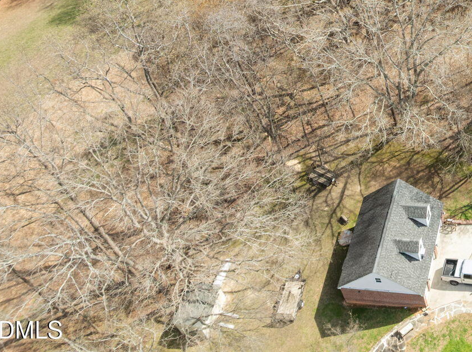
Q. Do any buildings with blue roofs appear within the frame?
No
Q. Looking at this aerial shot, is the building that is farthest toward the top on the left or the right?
right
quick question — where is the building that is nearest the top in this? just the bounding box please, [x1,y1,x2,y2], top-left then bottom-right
[337,179,445,307]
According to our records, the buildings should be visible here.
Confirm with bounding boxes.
[337,179,445,307]
[167,282,226,342]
